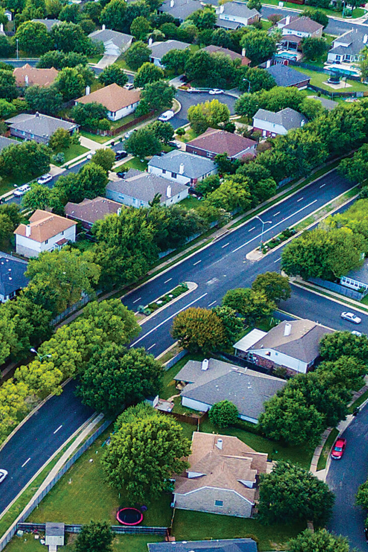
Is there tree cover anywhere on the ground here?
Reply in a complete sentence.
Yes, there's tree cover in this view.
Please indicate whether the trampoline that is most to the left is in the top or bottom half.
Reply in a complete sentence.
It is in the bottom half that the trampoline that is most to the left appears.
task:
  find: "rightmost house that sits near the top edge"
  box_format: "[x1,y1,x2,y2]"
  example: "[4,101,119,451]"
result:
[330,26,368,63]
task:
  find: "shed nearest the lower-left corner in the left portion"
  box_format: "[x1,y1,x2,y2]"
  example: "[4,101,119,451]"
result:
[42,525,67,552]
